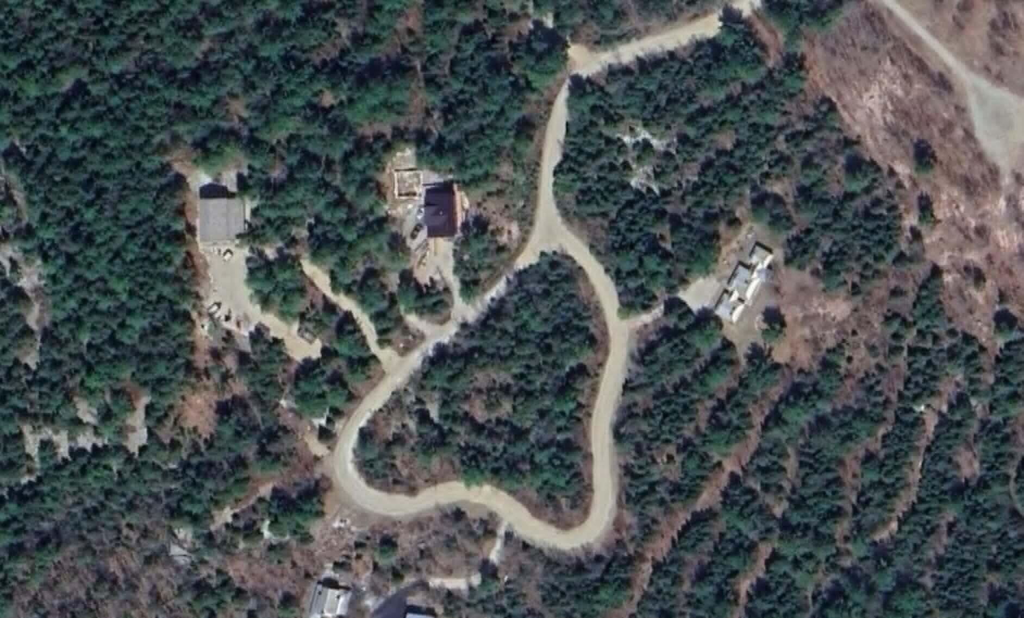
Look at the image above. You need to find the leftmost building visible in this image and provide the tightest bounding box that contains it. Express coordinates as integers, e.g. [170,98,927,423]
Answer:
[199,198,245,239]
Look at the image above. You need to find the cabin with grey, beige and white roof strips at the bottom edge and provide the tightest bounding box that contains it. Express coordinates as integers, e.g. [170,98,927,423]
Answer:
[311,583,352,618]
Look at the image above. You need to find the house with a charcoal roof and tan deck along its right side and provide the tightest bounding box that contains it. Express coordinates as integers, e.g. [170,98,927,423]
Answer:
[426,187,465,237]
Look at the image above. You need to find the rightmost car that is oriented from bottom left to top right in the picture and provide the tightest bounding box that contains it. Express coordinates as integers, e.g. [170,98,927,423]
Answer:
[408,223,423,239]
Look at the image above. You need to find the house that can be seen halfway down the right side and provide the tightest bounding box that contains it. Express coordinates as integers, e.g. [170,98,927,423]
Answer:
[714,245,775,322]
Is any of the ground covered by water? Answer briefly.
No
